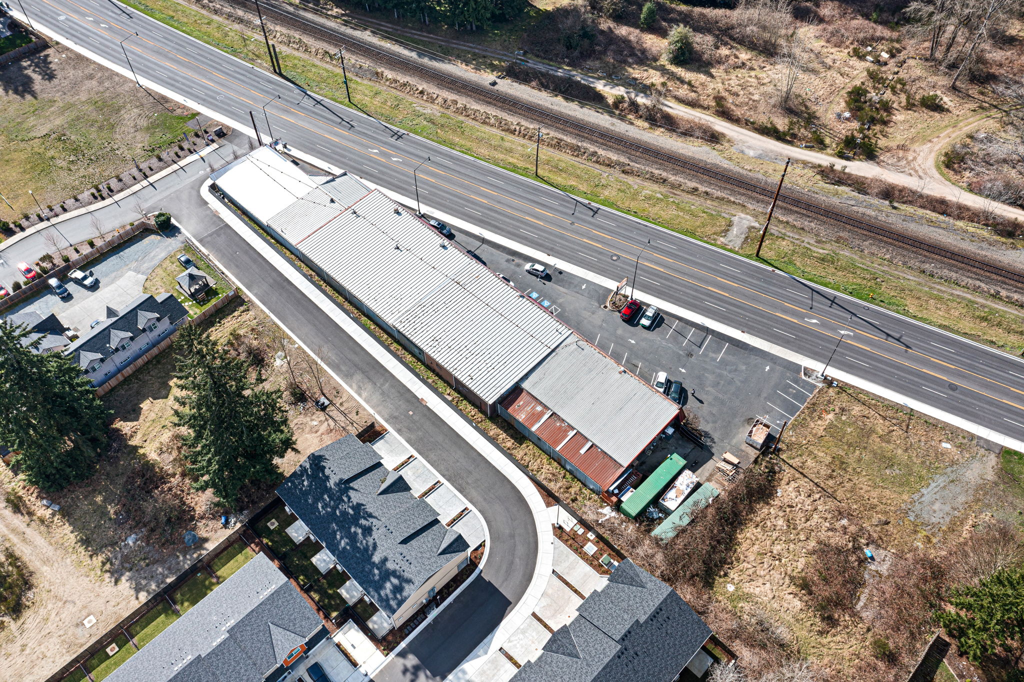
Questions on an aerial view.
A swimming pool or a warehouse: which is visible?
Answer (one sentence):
The one in the frame is a warehouse.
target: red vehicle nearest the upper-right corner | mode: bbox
[620,299,640,322]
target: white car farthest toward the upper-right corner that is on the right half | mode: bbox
[639,304,659,328]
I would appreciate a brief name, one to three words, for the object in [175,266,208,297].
gazebo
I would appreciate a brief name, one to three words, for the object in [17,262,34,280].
car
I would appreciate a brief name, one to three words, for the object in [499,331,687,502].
shed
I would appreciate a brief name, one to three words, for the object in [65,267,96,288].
truck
